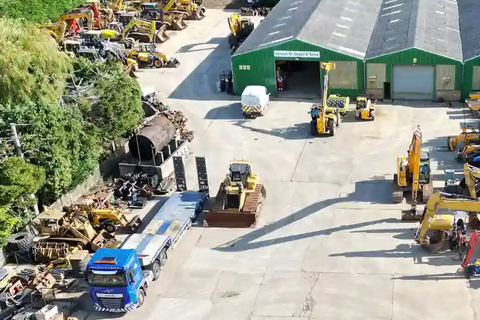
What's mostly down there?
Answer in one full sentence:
The scene is dominated by paved ground.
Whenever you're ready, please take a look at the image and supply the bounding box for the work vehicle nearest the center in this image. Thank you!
[203,149,261,217]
